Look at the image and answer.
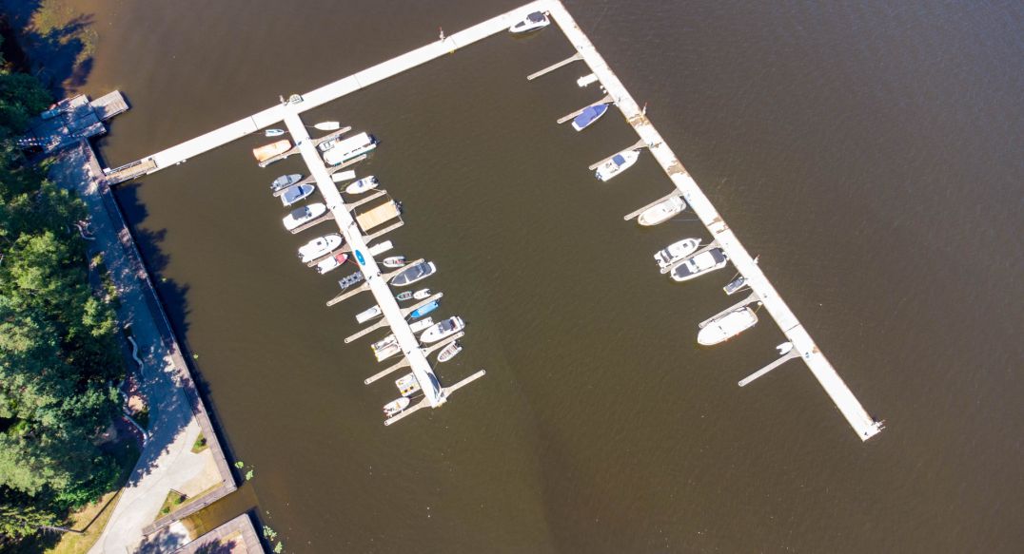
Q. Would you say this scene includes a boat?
Yes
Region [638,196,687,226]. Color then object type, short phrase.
white boat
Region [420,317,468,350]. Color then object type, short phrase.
white boat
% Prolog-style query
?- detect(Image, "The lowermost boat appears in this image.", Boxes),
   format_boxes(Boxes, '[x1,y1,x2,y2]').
[383,394,422,415]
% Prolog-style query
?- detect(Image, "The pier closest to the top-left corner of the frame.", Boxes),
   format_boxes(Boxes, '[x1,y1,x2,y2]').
[91,89,129,118]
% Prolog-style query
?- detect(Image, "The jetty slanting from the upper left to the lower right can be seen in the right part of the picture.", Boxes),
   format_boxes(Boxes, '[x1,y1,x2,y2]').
[541,0,881,443]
